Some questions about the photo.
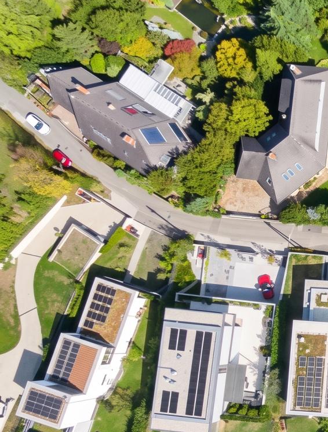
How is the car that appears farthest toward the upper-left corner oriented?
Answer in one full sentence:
The car that appears farthest toward the upper-left corner is oriented on a diagonal.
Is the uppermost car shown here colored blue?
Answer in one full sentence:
No, the uppermost car is actually white.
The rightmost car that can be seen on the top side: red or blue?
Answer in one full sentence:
The rightmost car that can be seen on the top side is red.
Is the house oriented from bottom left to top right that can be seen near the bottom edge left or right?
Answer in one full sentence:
It is on the left.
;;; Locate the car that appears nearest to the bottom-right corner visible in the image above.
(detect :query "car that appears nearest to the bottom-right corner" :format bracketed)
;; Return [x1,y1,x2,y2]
[257,272,275,300]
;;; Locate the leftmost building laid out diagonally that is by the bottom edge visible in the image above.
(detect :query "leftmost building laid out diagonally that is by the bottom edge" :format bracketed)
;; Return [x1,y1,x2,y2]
[15,277,156,432]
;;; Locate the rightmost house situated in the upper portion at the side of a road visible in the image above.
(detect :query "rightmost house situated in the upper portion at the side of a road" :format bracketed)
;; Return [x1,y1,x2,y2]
[236,63,328,204]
